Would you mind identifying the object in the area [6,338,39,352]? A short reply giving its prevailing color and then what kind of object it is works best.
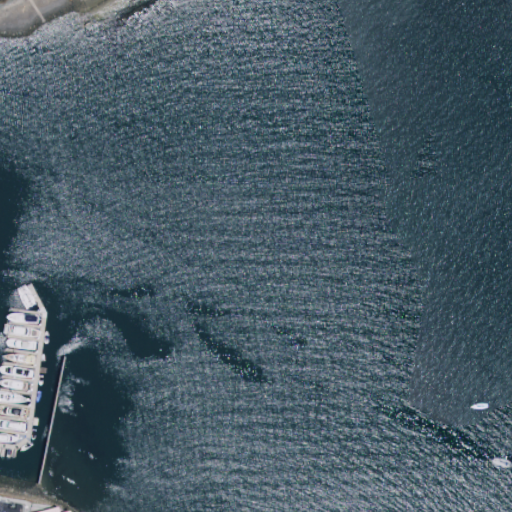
white boat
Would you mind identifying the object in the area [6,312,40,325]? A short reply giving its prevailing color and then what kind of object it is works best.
white boat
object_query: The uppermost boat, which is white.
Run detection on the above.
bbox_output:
[18,286,36,310]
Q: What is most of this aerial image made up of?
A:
water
